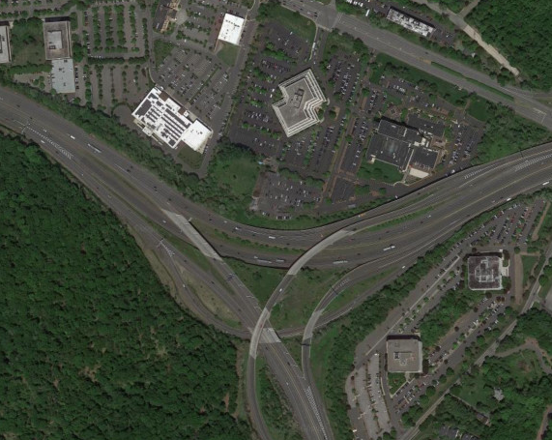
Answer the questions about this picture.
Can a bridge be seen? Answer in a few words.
Yes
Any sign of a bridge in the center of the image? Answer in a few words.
Yes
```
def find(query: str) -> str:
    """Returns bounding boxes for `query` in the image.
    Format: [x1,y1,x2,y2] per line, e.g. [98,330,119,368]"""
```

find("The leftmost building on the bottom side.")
[387,339,421,372]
